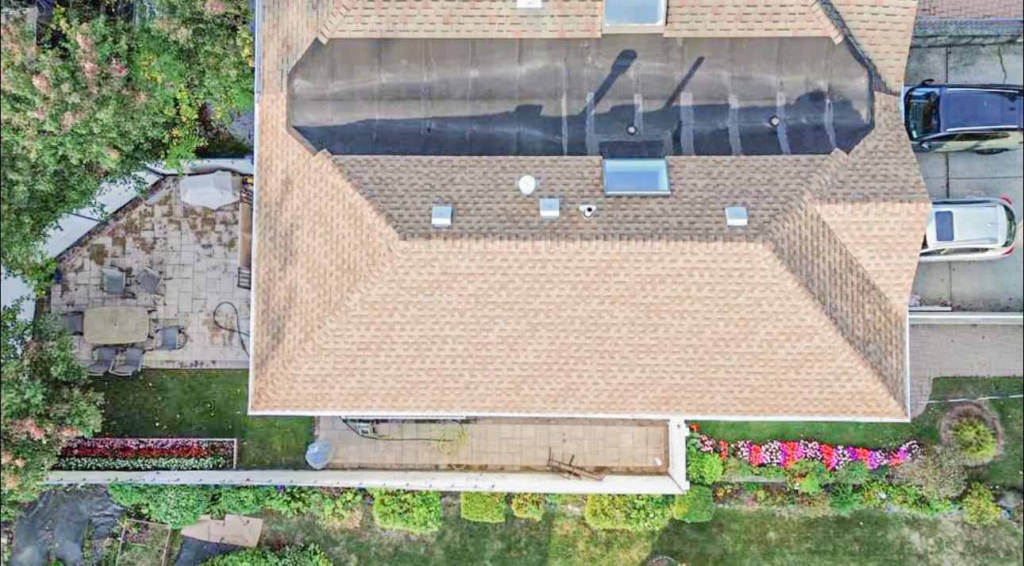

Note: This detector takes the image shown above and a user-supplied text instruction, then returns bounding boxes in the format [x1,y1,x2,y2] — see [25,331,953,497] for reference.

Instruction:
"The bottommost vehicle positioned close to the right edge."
[920,200,1017,262]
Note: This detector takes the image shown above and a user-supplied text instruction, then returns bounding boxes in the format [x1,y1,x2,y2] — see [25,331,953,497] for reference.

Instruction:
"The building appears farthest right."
[247,0,933,421]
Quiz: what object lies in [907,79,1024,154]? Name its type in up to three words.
car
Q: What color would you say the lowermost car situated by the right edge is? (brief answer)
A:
white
